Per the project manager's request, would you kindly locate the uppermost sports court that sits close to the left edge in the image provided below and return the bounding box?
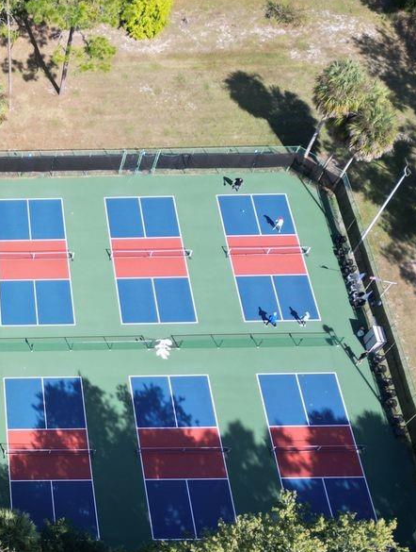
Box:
[0,197,77,326]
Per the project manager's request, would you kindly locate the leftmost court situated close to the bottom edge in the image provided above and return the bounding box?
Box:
[2,375,100,541]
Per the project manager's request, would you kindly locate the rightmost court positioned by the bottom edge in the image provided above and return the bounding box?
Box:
[257,372,381,538]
